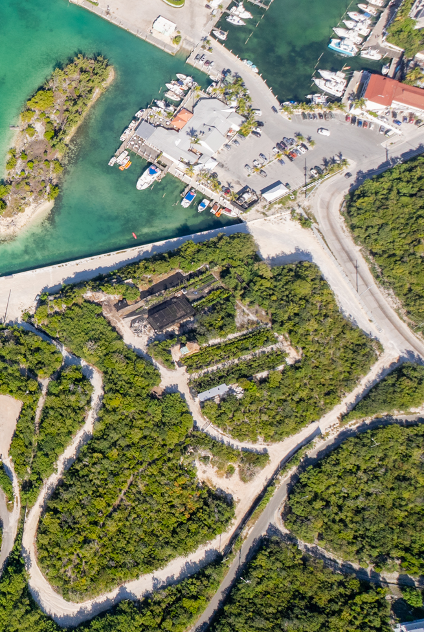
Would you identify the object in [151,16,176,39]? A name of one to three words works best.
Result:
house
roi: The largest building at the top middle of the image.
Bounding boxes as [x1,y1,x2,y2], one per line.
[144,99,246,169]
